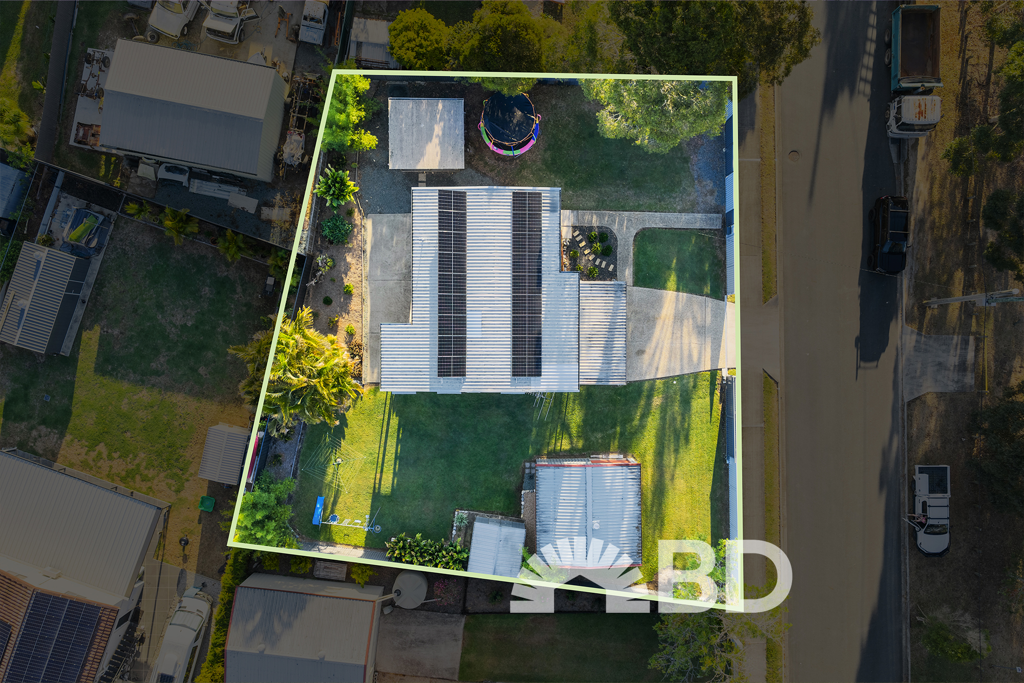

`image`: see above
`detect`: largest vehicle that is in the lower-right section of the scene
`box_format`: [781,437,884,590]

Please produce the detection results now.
[902,464,956,555]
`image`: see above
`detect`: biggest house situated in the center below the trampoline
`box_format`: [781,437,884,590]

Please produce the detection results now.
[375,184,581,411]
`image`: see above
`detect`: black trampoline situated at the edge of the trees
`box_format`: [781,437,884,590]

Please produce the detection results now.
[479,91,542,165]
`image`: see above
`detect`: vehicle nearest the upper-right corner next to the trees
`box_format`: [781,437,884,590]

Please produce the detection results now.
[874,7,943,138]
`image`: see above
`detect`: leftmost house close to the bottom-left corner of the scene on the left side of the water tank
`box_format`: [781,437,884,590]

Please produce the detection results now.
[0,453,179,683]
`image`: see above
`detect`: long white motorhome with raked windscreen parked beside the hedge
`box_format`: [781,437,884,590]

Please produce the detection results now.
[141,585,210,683]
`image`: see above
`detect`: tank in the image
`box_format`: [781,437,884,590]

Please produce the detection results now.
[376,568,439,612]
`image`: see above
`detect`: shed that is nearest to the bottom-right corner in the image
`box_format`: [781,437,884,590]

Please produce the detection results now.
[535,458,643,569]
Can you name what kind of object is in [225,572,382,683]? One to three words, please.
shed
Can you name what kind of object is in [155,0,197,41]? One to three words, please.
truck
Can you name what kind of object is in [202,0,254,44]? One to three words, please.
car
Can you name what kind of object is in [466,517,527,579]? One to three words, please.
shed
